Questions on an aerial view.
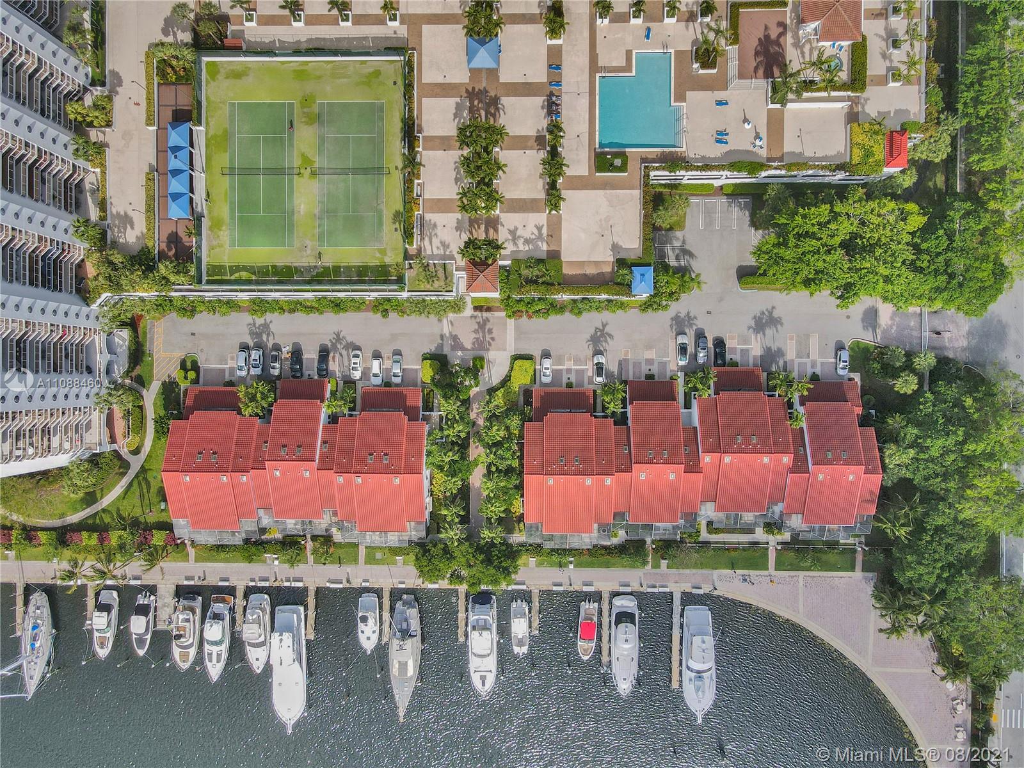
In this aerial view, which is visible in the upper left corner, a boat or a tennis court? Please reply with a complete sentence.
There is a tennis court in the upper left corner.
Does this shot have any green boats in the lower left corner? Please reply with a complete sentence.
No, no green boat is visible in the lower left corner.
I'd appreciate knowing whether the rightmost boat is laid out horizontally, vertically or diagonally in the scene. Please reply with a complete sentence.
The rightmost boat is oriented vertically.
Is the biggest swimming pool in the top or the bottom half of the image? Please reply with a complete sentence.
The top half of the photo is where the biggest swimming pool is.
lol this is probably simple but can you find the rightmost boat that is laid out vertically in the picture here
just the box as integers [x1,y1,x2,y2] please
[683,604,726,734]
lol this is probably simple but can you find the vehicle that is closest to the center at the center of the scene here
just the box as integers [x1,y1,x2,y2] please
[540,355,553,383]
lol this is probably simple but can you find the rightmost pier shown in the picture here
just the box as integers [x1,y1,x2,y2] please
[669,590,684,691]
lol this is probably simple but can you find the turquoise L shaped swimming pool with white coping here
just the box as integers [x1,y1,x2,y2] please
[596,46,688,150]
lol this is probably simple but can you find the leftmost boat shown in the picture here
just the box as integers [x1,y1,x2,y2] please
[0,582,54,700]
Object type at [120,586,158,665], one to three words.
boat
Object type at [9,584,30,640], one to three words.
pier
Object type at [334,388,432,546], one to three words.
house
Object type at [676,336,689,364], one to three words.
vehicle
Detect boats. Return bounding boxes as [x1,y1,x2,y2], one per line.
[469,593,501,698]
[201,590,235,684]
[346,585,383,672]
[120,586,158,665]
[510,600,529,657]
[0,582,54,700]
[85,585,129,661]
[611,593,640,698]
[683,604,726,734]
[237,589,273,678]
[389,586,421,728]
[270,600,309,742]
[578,601,599,661]
[171,590,208,672]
